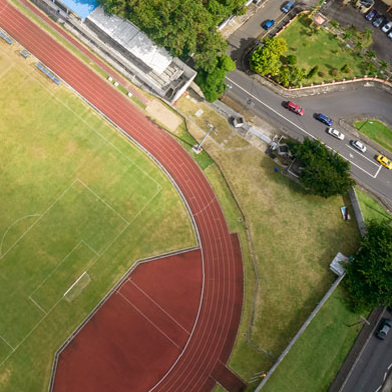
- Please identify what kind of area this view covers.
sports ground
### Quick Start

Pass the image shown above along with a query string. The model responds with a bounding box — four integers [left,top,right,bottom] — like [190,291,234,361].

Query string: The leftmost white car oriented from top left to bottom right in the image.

[327,126,345,141]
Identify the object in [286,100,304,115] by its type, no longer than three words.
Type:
car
